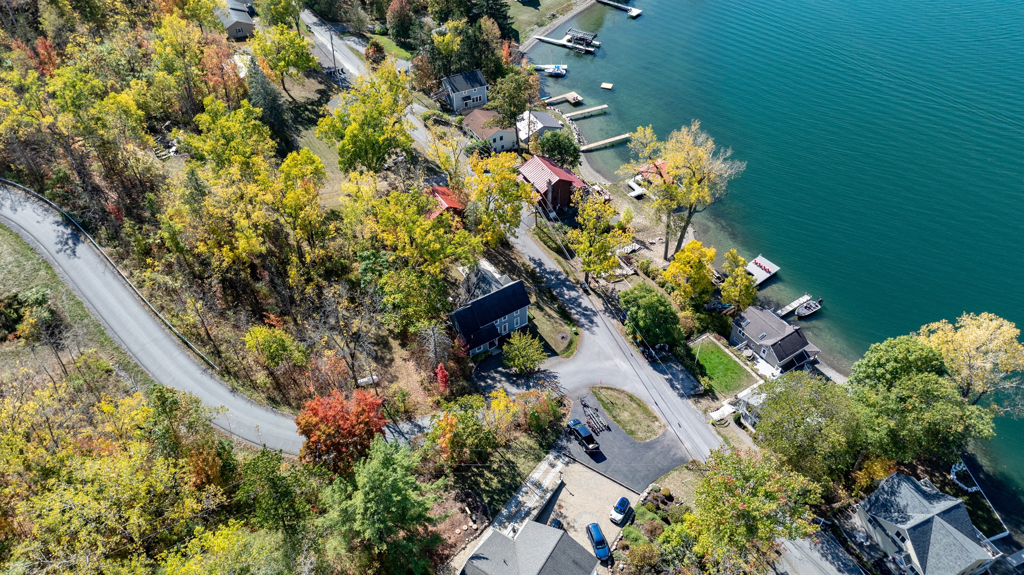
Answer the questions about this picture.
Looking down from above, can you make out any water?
Yes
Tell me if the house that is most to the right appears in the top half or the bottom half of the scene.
bottom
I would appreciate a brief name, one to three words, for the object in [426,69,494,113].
house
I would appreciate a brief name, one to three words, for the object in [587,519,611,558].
car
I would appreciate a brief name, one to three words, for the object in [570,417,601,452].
truck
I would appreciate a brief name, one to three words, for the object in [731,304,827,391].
house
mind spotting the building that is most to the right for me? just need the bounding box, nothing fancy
[848,471,1012,575]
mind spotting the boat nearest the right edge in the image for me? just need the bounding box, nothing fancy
[795,299,825,314]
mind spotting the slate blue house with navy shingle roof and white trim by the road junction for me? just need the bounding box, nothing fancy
[445,268,531,355]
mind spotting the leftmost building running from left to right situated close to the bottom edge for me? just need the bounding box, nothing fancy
[458,516,601,575]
